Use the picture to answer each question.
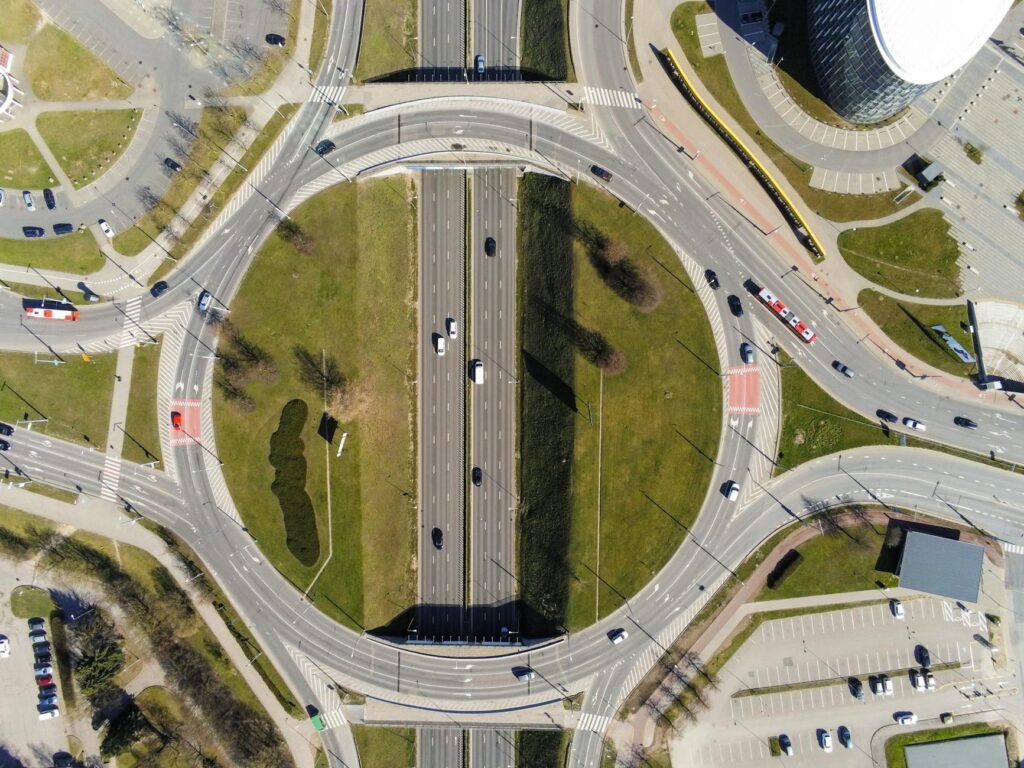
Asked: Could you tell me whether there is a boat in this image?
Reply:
No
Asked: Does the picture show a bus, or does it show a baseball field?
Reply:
bus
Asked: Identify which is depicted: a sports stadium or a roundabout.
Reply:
roundabout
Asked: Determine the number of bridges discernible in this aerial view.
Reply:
2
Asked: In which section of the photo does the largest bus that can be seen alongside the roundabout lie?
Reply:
right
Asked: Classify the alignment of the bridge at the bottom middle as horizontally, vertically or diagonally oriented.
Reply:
horizontally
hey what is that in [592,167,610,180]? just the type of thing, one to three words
vehicle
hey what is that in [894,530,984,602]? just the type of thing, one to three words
building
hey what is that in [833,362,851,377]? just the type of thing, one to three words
car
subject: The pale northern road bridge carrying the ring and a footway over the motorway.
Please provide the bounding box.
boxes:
[346,74,585,178]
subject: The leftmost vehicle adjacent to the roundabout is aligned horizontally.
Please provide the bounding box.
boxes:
[26,307,84,320]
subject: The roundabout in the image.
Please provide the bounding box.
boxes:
[63,100,780,712]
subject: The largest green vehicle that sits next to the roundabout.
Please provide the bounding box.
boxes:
[309,706,327,733]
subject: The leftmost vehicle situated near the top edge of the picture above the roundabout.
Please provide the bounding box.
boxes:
[267,34,286,46]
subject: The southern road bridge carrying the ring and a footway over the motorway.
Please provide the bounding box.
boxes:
[346,632,578,736]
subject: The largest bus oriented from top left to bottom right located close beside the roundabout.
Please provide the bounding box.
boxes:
[754,285,816,345]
